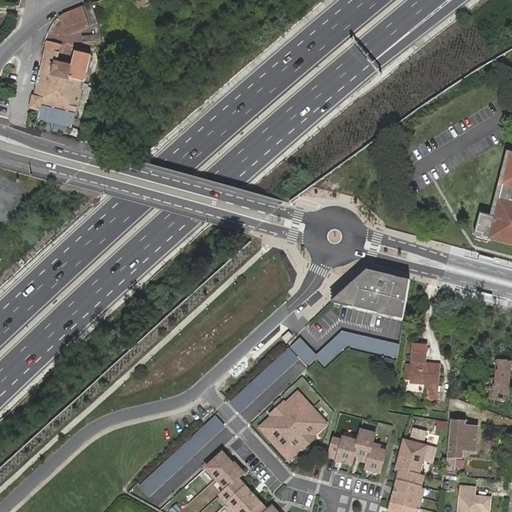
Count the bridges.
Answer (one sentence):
I count just 1 bridge.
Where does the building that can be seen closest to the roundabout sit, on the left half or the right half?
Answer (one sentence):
It is on the right.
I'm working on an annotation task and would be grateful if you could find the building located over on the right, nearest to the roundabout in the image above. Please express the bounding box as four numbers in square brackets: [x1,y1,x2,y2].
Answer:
[332,268,411,323]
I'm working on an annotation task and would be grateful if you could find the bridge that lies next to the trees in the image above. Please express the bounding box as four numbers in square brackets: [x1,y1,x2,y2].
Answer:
[89,160,256,230]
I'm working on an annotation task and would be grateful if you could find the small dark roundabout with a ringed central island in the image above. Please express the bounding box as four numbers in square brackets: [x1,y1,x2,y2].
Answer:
[303,206,366,268]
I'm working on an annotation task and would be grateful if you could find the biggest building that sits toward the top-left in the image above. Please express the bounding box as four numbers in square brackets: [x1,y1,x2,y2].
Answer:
[28,40,83,110]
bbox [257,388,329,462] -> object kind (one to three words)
house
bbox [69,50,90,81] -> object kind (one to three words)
house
